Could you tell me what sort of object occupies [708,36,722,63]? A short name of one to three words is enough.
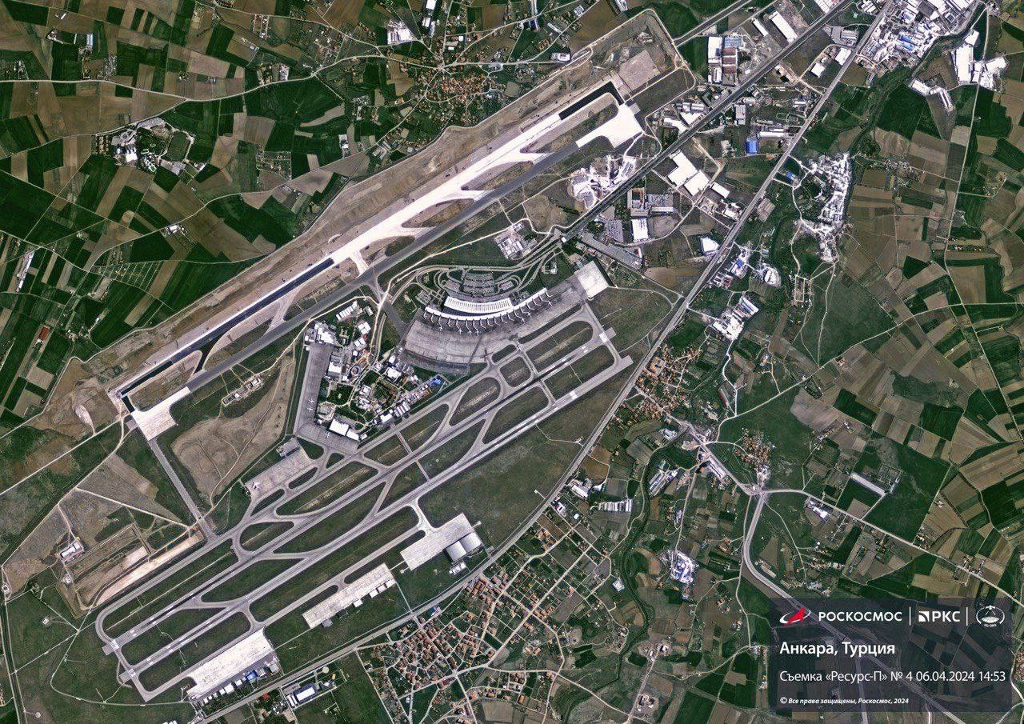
building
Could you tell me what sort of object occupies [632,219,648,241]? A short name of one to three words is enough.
building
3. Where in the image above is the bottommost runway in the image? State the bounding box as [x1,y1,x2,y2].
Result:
[129,355,630,677]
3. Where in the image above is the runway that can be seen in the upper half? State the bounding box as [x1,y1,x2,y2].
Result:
[118,81,623,412]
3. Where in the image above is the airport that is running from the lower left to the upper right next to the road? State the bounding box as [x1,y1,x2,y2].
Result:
[4,10,694,723]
